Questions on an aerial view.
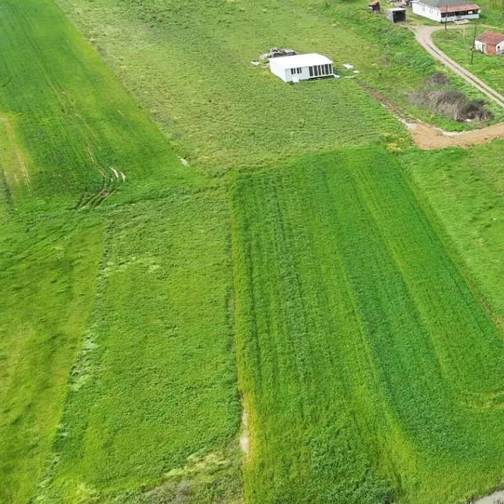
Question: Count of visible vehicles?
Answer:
0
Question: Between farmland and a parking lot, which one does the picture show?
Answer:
farmland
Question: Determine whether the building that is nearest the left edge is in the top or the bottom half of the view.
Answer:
top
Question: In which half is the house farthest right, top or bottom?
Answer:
top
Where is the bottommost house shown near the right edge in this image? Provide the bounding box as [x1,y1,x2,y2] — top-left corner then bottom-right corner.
[470,26,504,55]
